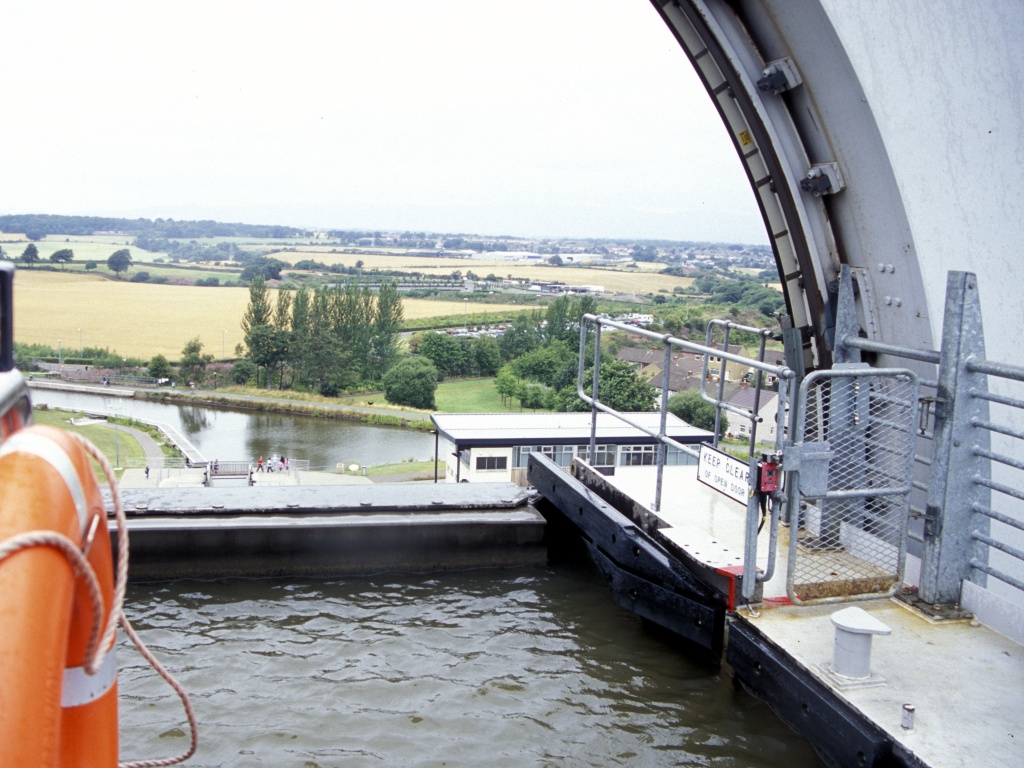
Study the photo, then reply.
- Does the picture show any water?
Yes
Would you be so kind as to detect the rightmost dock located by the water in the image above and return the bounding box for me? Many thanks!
[151,419,210,465]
